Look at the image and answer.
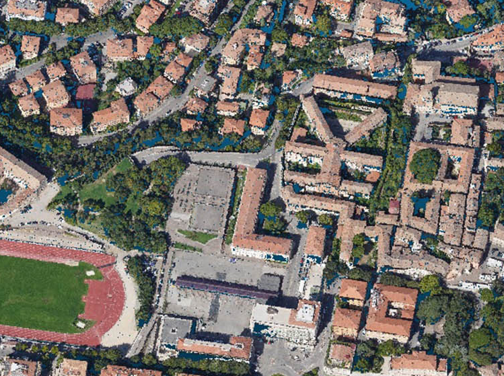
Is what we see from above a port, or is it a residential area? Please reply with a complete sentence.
What you see here is a residential area.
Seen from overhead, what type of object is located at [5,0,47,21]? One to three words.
house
